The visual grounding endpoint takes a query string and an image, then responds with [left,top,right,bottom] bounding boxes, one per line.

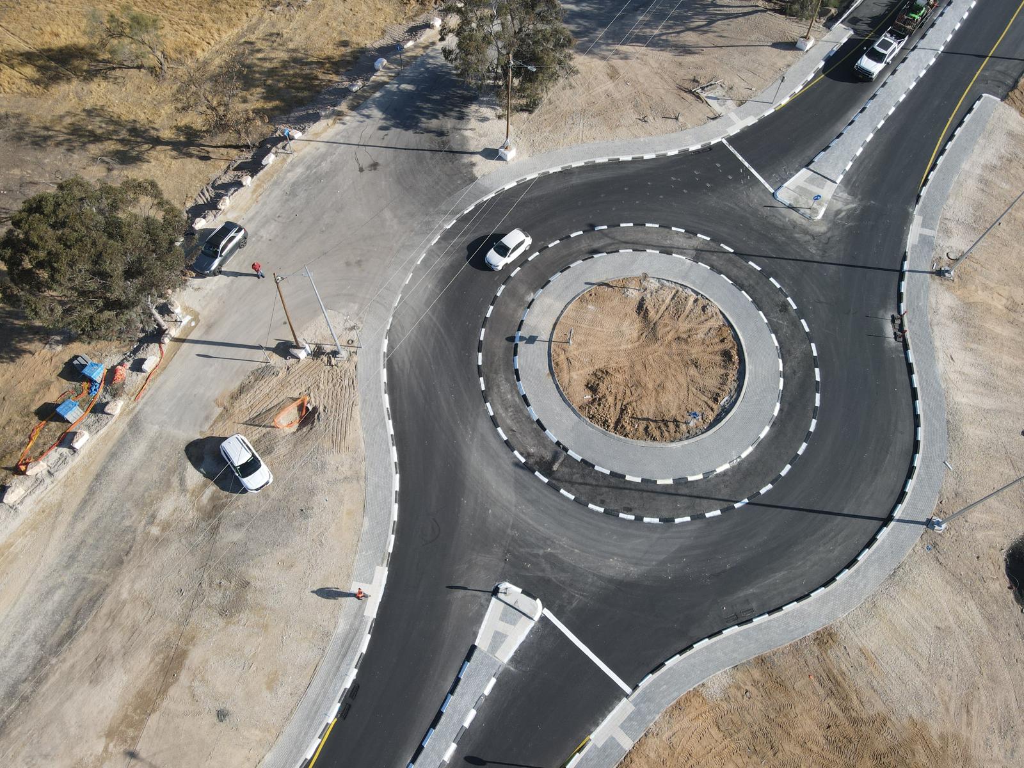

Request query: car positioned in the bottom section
[218,432,277,494]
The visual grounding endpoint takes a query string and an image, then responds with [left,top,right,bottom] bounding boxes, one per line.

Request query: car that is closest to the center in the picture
[483,225,533,270]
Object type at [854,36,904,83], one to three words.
truck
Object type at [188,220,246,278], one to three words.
car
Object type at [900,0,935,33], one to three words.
work vehicle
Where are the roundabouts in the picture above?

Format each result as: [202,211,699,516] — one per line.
[478,223,821,522]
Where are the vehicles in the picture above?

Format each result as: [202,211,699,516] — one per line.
[854,36,904,83]
[218,432,277,494]
[483,225,533,270]
[188,220,246,278]
[900,0,935,33]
